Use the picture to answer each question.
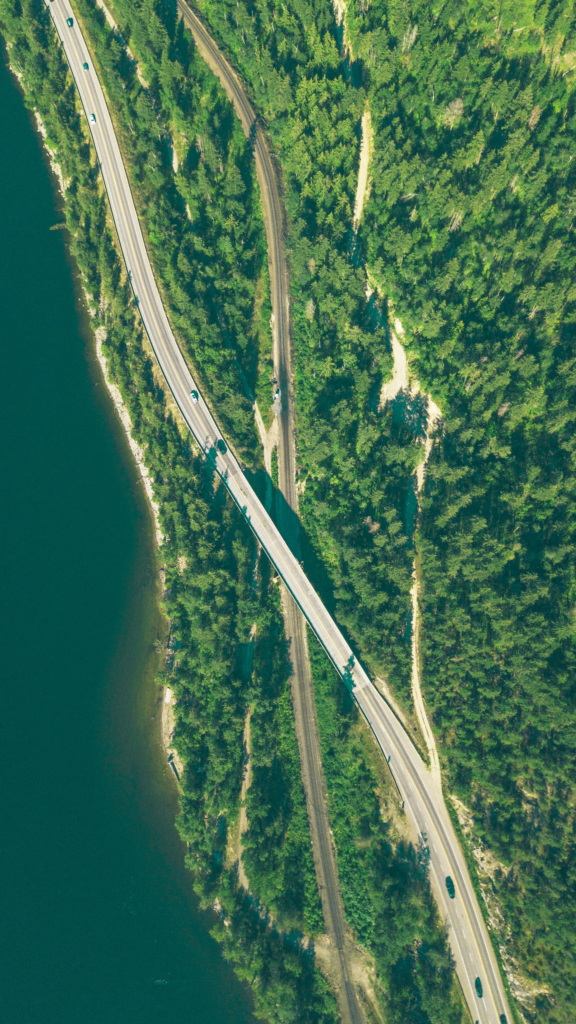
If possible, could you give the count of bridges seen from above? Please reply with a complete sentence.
Just 1 bridge appears in this view.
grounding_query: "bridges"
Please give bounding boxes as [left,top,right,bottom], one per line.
[220,466,370,694]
